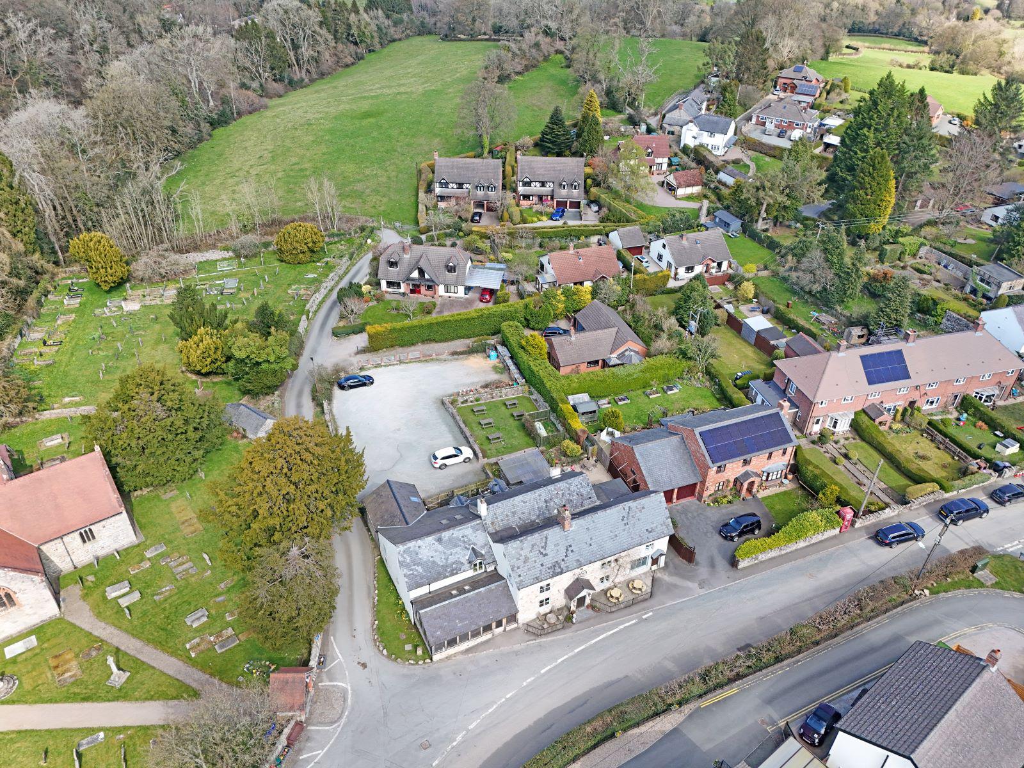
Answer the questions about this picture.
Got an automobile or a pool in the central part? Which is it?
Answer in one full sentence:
You can see an automobile in the central part.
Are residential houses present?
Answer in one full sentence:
Yes, the image includes a residential house.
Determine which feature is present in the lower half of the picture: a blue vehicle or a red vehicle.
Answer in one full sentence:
You can see a blue vehicle in the lower half of the picture.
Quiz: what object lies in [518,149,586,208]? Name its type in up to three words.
house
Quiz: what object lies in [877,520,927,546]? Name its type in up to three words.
car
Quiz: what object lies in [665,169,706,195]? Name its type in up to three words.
building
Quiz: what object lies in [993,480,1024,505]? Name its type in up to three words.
car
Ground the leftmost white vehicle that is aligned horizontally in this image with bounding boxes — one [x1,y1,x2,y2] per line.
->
[430,444,474,467]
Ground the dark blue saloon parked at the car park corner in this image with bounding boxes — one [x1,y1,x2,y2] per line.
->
[337,374,374,390]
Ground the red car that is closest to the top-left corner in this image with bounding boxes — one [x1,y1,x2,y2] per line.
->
[479,290,495,302]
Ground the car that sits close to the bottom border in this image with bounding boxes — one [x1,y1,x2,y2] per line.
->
[800,696,846,746]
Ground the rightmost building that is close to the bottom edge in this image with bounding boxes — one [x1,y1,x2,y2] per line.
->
[828,641,1024,768]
